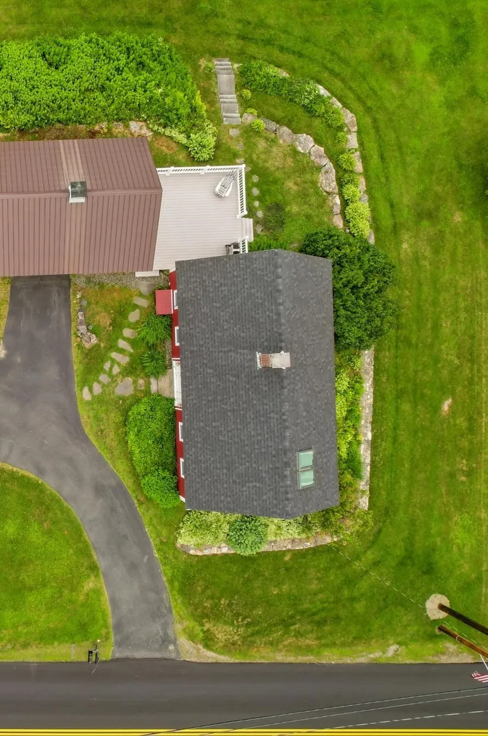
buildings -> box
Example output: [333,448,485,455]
[0,135,166,276]
[168,249,339,519]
